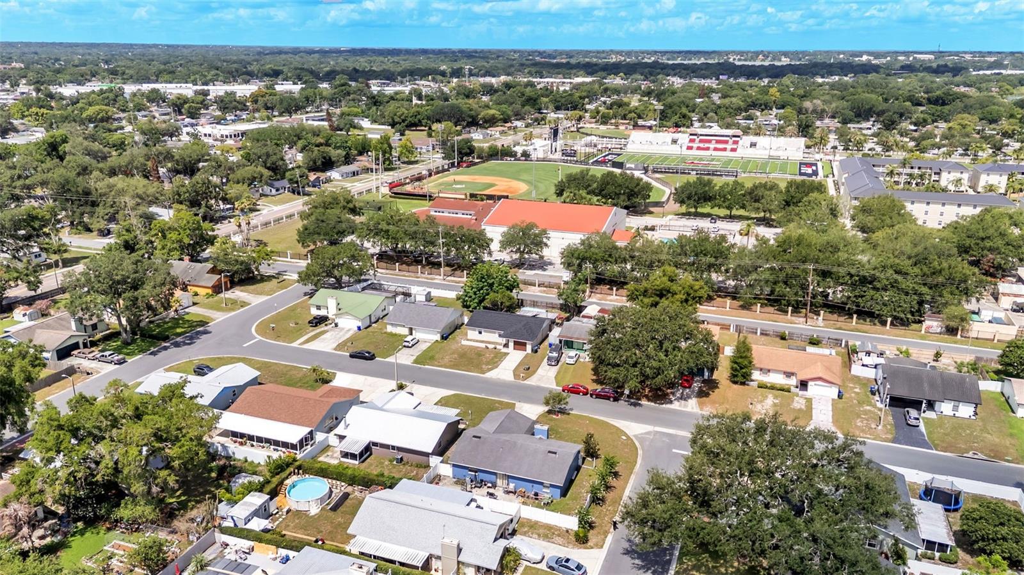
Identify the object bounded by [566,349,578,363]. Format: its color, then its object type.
white vehicle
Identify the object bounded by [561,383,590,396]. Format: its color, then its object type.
red vehicle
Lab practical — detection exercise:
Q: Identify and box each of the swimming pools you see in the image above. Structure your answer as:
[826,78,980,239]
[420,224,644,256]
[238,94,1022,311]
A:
[285,476,332,511]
